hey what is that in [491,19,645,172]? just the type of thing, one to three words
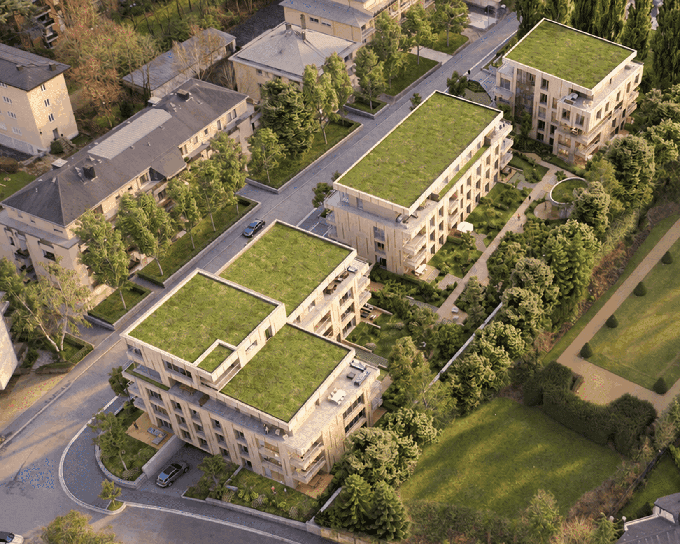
building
